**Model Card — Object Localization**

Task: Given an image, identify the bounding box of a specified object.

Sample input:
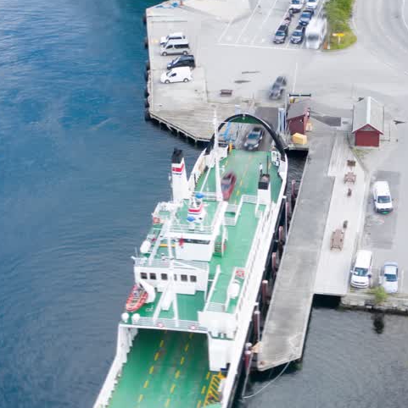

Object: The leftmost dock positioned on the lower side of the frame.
[252,134,338,380]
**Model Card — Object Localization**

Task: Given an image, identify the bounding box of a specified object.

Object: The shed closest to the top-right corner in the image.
[352,101,384,146]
